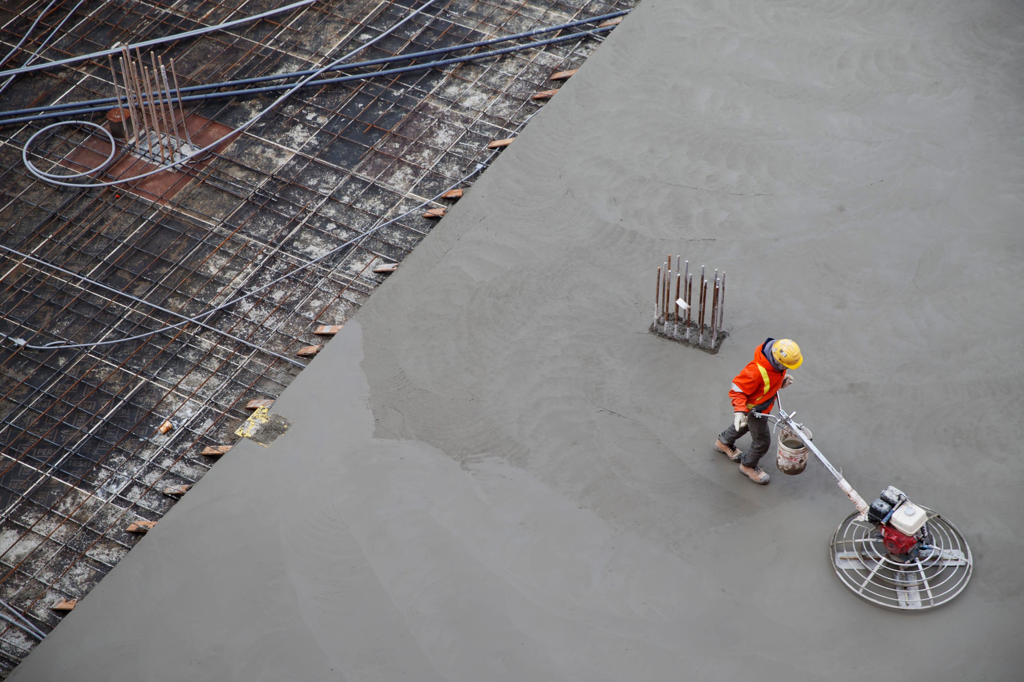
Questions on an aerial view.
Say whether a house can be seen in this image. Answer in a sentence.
No, the photo shows no house.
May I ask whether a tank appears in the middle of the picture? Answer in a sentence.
No, no tank is visible in the middle of the picture.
